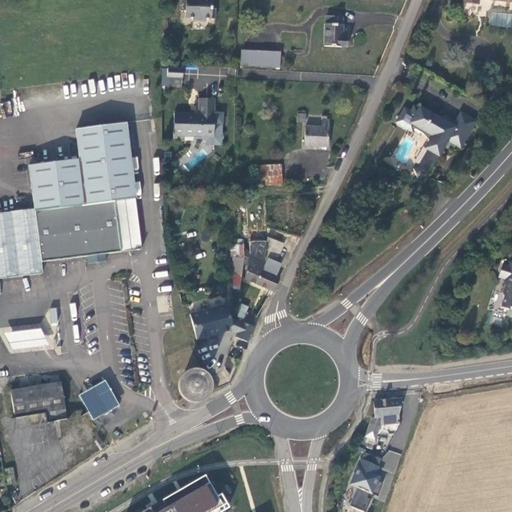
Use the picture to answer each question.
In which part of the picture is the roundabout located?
bottom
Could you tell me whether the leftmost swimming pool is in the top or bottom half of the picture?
top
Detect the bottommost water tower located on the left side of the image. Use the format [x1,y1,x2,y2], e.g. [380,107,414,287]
[178,368,214,404]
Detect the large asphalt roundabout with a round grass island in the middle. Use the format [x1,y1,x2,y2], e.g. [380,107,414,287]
[244,322,360,438]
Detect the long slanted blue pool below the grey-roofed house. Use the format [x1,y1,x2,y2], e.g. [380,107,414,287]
[185,148,209,172]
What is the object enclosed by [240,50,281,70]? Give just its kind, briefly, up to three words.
barn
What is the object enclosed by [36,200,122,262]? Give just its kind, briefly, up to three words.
building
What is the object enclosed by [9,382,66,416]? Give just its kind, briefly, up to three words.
shed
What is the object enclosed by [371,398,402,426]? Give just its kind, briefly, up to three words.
house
